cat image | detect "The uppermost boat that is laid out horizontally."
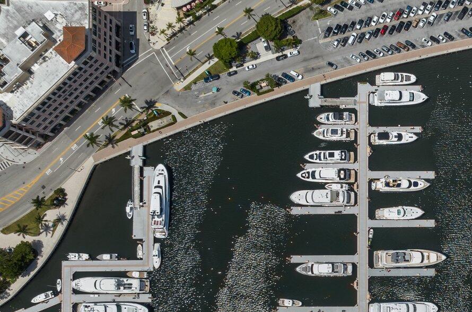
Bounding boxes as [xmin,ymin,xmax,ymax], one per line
[375,71,416,86]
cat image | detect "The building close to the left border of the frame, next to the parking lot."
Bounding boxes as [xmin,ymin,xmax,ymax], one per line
[0,0,122,136]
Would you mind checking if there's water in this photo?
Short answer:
Yes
